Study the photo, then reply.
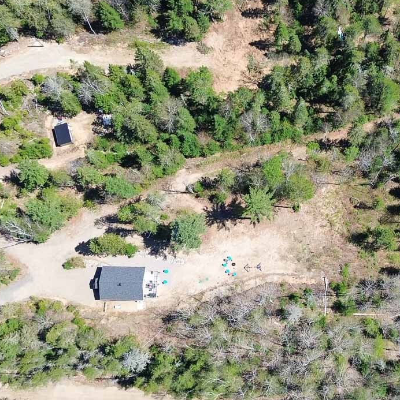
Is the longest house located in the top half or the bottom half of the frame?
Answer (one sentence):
It is in the bottom half that the longest house appears.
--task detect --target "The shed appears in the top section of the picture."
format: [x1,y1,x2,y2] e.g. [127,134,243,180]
[55,124,75,151]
